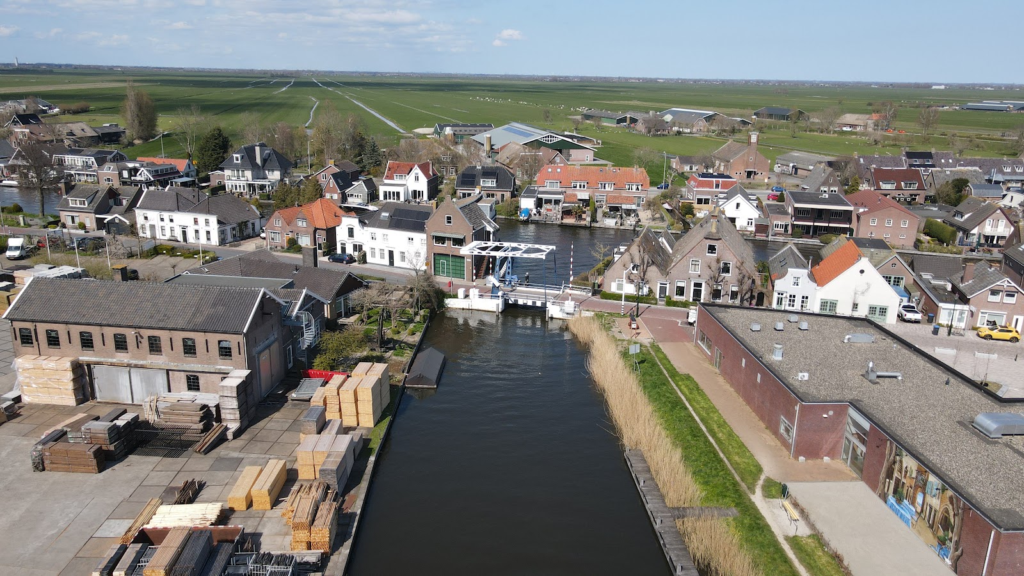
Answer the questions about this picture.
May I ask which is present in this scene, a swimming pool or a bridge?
bridge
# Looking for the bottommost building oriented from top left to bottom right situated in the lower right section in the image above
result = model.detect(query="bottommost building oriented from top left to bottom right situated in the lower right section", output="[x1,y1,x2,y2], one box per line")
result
[694,303,1024,576]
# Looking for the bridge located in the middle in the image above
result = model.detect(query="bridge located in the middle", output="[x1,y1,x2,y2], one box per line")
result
[459,239,561,311]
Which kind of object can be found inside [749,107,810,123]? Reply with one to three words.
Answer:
barn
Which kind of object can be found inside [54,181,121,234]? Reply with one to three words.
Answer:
house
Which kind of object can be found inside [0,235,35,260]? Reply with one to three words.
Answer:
truck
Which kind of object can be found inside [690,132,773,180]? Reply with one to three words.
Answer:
building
